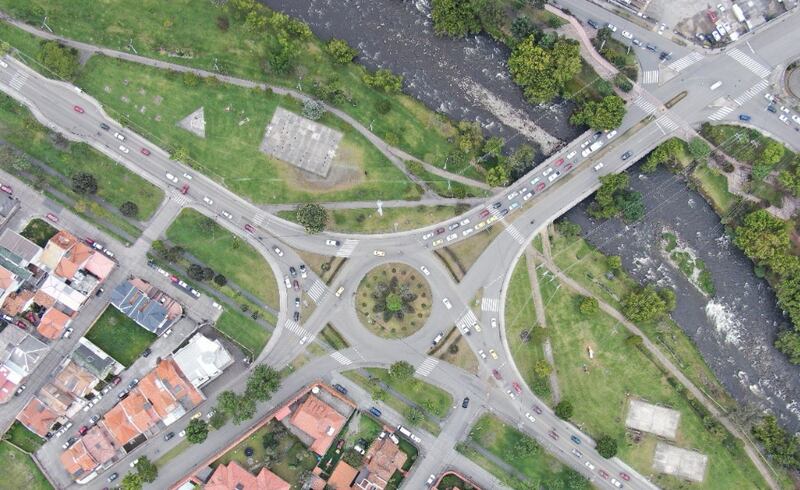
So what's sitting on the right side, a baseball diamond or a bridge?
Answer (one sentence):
The one visible on the right side is a bridge.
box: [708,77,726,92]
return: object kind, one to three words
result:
vehicle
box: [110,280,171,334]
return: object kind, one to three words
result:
house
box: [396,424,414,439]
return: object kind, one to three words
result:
vehicle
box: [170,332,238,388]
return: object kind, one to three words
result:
building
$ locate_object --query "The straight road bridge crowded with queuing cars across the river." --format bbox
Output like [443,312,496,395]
[495,121,658,240]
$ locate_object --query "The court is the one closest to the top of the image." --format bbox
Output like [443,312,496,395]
[626,399,680,438]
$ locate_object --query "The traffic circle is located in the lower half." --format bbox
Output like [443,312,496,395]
[337,244,451,358]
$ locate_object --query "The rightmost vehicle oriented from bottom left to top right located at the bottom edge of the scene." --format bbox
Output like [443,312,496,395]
[425,471,438,488]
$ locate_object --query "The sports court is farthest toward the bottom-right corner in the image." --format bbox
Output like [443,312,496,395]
[652,443,707,482]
